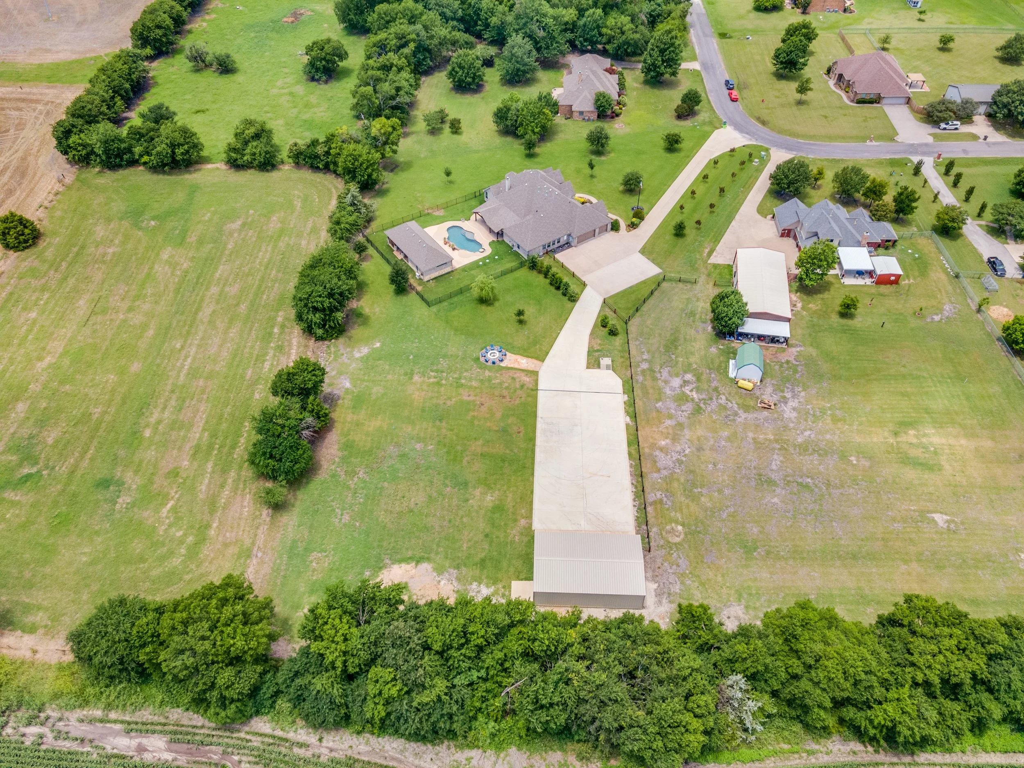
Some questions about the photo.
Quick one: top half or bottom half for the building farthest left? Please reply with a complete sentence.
It is in the top half that the building farthest left appears.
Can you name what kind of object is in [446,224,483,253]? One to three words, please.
swimming pool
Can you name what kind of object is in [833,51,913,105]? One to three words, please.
house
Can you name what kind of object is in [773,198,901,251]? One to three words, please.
house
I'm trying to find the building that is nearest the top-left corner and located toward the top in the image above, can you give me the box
[384,221,454,282]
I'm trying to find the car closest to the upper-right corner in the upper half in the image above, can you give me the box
[938,118,964,130]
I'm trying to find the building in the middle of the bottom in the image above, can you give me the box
[534,526,648,610]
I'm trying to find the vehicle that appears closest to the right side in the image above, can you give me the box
[984,253,1012,279]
